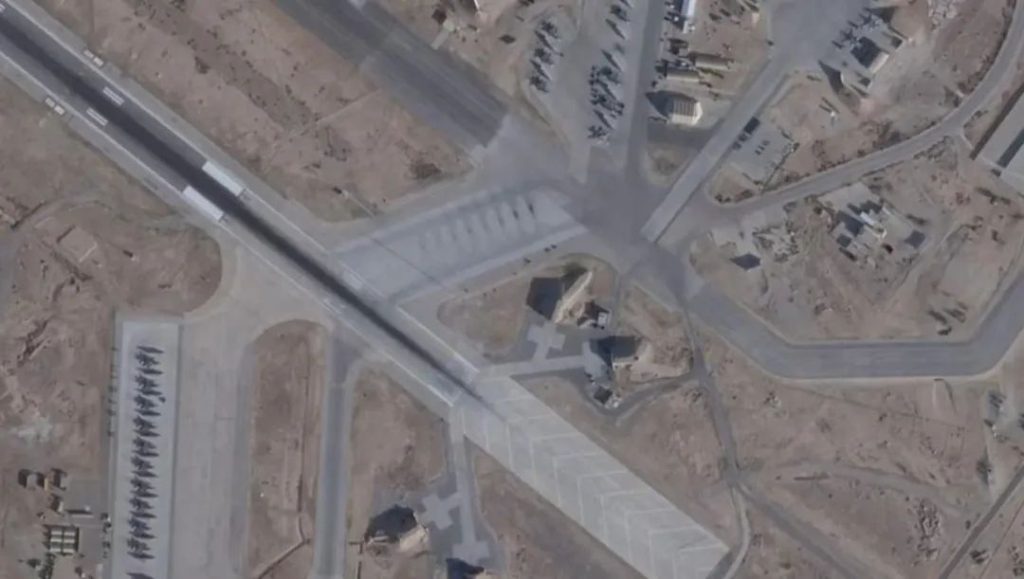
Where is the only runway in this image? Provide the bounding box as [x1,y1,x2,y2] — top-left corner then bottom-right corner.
[0,0,478,407]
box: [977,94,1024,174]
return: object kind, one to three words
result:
building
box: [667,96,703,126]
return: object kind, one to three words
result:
hangar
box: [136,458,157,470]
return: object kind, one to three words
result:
airplane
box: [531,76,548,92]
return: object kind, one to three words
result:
airplane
